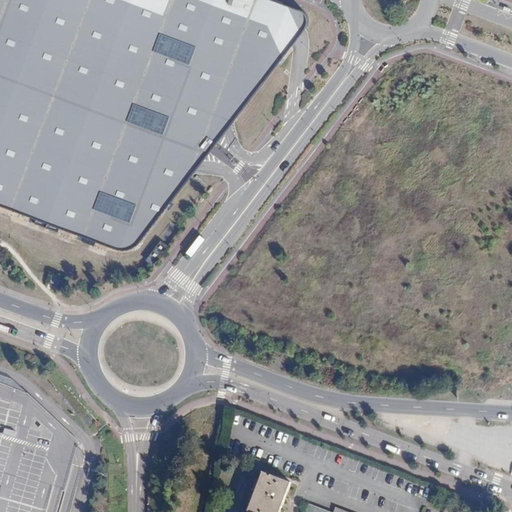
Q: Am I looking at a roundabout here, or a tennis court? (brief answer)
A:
roundabout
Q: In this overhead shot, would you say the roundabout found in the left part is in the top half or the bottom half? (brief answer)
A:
bottom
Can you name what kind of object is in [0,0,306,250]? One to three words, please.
warehouse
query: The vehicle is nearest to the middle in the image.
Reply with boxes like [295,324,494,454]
[186,236,204,258]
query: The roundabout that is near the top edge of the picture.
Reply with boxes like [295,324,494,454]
[344,0,458,65]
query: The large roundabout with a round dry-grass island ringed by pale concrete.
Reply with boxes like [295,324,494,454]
[78,290,205,416]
